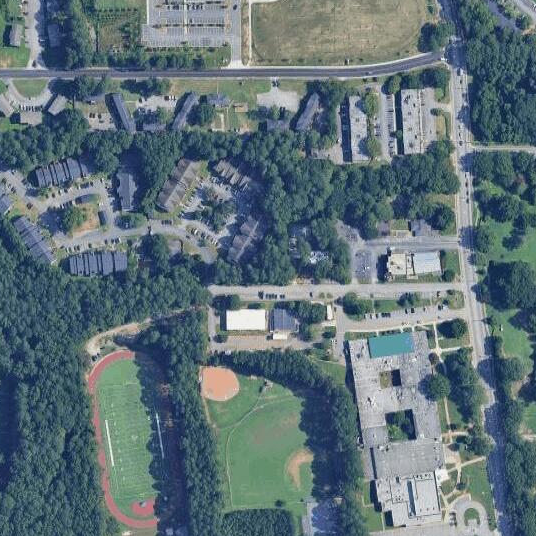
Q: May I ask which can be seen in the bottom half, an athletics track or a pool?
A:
athletics track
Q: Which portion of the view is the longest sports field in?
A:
bottom left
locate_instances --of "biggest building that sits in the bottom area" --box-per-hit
[350,331,449,526]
